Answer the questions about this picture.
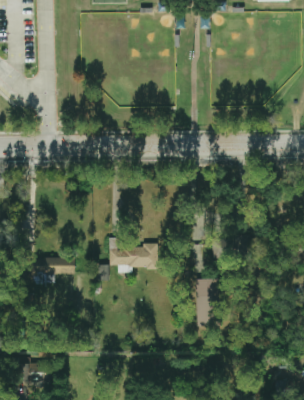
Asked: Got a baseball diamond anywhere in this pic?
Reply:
Yes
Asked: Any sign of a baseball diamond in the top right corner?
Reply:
Yes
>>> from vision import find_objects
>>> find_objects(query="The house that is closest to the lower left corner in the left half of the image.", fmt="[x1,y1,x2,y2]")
[22,364,45,388]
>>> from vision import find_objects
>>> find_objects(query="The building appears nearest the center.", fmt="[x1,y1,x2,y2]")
[108,238,158,273]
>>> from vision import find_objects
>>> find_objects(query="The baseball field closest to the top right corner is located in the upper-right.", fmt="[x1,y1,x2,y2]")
[210,12,301,106]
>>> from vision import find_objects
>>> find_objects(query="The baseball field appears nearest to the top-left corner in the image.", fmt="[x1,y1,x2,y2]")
[80,12,176,106]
